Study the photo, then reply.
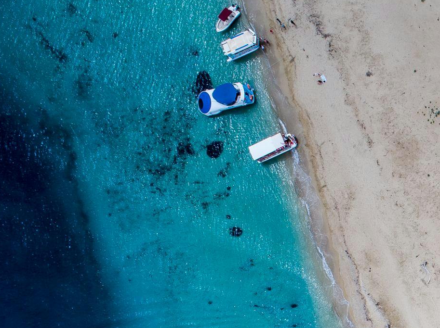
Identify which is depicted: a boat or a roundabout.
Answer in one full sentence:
I can see a boat in this picture.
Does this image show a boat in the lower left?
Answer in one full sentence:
No, there is no boat in the lower left.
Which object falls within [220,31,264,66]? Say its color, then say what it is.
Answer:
white boat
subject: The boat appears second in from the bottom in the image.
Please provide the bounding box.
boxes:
[204,86,255,118]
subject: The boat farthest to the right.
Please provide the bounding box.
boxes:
[249,133,301,166]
